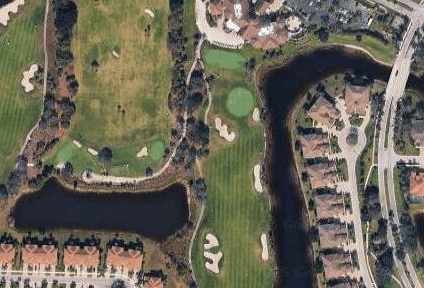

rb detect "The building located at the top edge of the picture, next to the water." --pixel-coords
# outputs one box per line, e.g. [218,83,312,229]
[208,0,306,51]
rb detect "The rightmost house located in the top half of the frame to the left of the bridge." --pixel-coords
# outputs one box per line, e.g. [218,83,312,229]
[347,86,369,112]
